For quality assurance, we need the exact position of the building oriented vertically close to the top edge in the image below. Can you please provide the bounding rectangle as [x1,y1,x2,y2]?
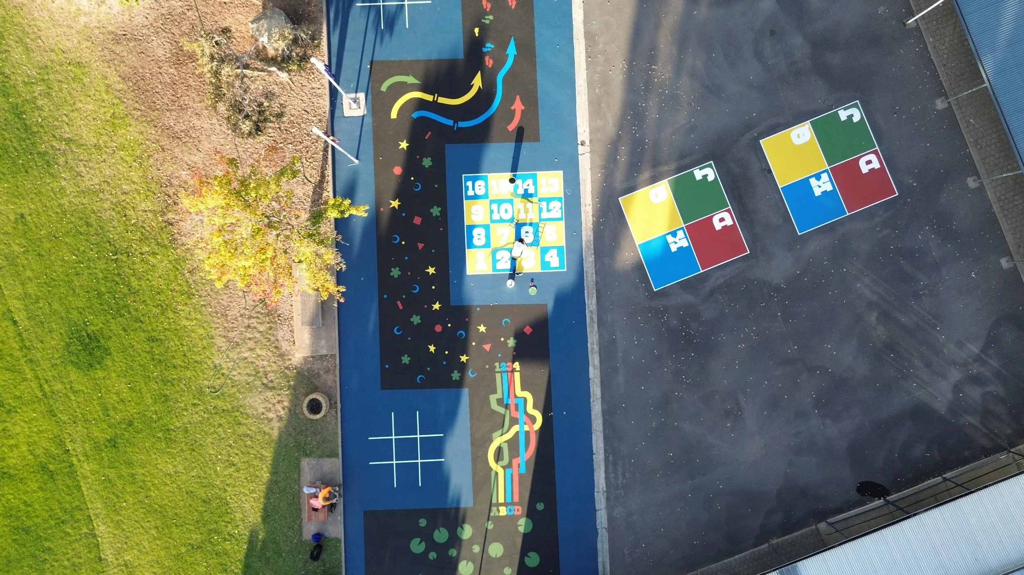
[952,0,1024,174]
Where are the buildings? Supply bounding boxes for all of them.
[753,468,1024,575]
[952,0,1024,174]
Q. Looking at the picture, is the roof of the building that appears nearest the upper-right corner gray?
No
